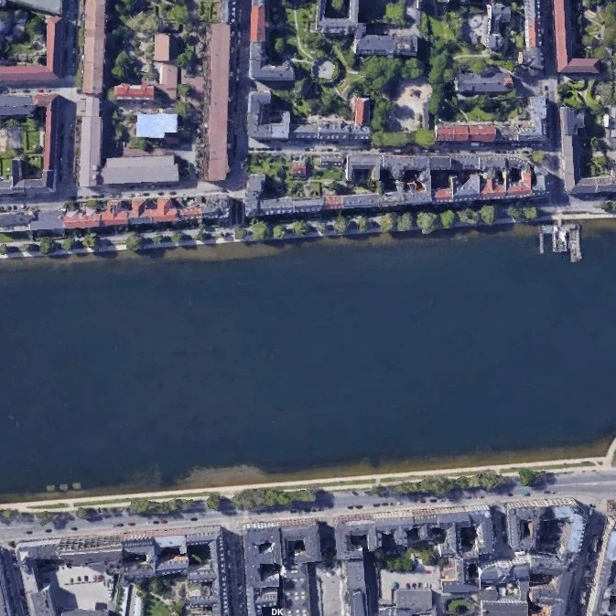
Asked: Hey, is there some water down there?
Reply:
Yes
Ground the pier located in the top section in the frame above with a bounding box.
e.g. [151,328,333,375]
[539,220,582,262]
